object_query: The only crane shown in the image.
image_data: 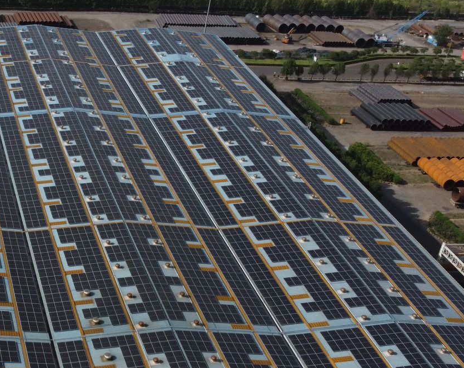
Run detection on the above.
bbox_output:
[375,11,428,49]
